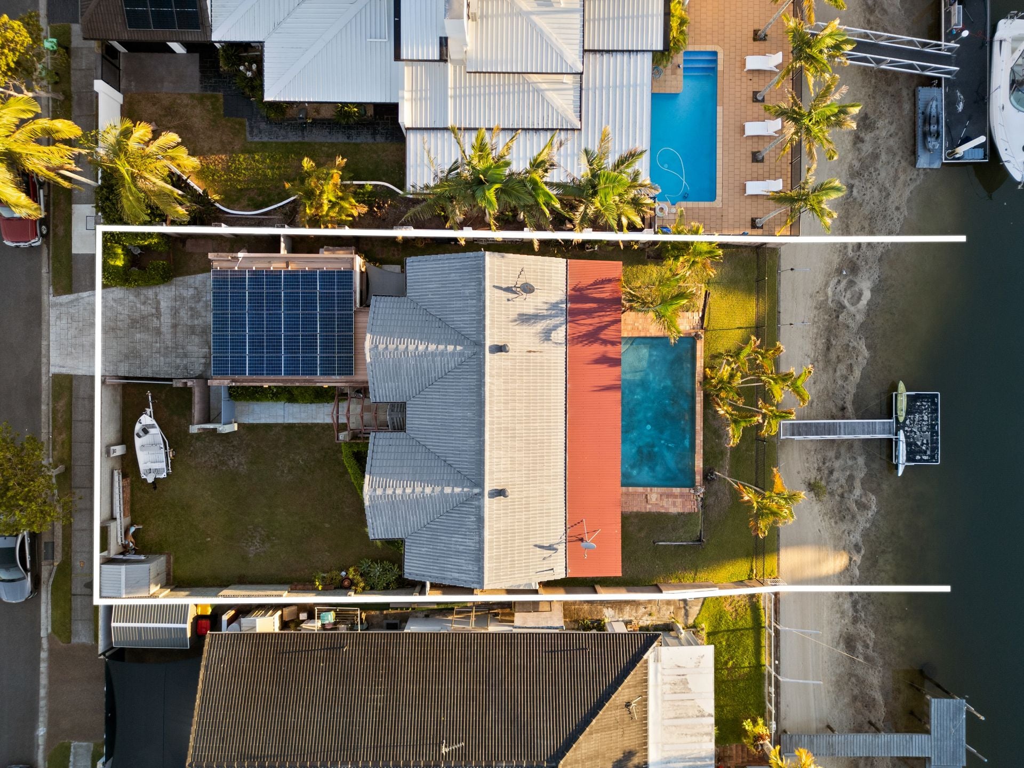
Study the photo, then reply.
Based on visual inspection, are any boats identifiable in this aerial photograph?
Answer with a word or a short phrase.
Yes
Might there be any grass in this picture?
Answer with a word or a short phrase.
Yes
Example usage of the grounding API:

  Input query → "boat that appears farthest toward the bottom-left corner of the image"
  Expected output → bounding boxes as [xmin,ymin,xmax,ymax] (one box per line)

[131,413,167,484]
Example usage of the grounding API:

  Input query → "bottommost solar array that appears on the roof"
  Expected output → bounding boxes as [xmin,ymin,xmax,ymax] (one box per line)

[212,267,354,379]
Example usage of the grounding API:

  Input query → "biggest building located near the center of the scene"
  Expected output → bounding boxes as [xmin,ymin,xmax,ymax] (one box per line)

[359,252,622,590]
